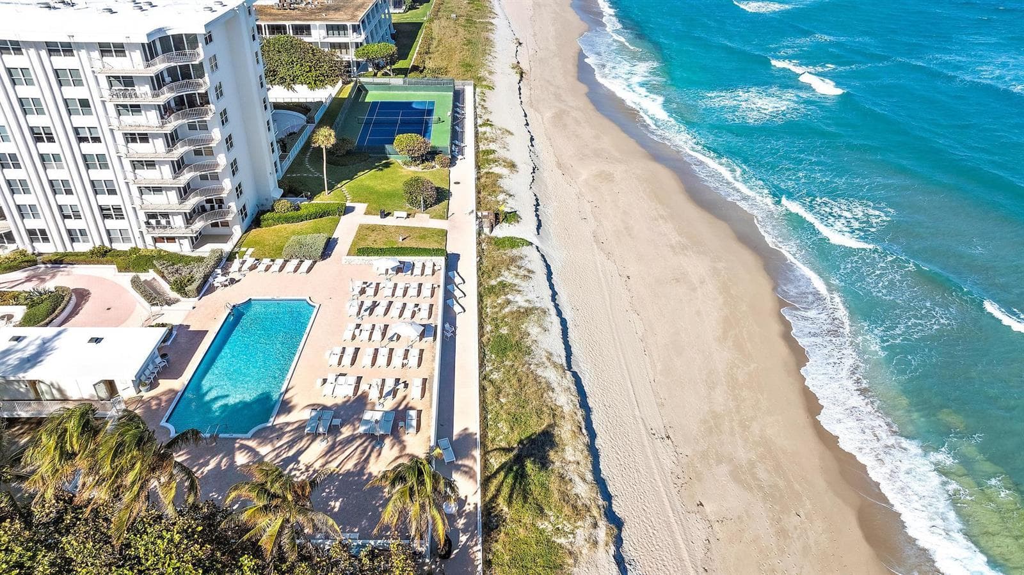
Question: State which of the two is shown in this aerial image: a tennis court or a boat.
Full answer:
The one in the frame is a tennis court.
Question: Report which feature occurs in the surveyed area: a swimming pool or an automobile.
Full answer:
This aerial view contains a swimming pool.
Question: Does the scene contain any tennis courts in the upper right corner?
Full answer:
No, there's no tennis court to be seen in the upper right corner.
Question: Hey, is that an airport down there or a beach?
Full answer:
What you see here is a beach.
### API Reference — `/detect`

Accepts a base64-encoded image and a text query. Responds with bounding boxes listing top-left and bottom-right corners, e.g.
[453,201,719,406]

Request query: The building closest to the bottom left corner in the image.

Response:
[0,327,169,403]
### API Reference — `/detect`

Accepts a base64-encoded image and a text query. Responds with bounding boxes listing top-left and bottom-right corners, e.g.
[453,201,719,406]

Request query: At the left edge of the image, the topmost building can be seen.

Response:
[0,0,286,247]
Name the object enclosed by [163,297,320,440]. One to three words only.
swimming pool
